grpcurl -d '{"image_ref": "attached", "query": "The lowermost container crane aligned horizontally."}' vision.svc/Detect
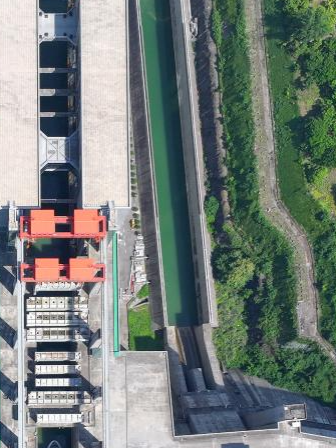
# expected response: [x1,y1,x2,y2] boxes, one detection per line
[20,259,106,283]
